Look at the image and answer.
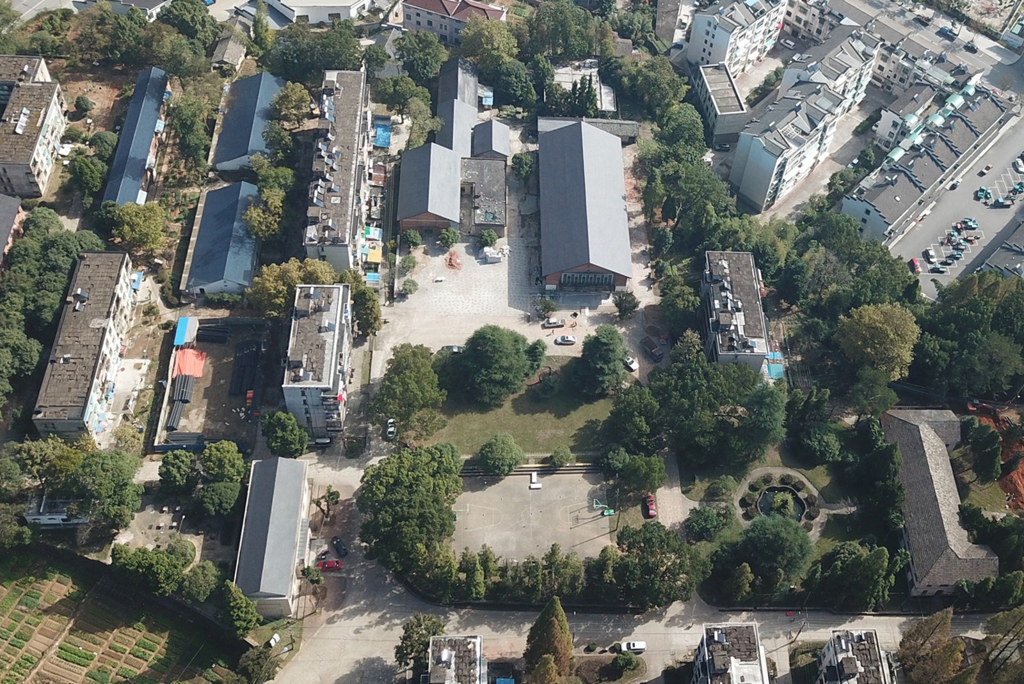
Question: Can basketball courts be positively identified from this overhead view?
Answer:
Yes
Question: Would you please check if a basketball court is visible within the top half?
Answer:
No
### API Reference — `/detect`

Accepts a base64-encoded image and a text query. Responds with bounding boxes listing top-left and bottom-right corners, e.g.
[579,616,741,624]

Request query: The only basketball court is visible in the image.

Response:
[450,474,618,555]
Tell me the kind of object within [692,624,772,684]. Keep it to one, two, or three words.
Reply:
building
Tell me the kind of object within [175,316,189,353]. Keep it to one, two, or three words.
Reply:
shed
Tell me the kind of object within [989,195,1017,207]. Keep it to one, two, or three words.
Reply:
vehicle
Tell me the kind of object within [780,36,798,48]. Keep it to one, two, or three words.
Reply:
vehicle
